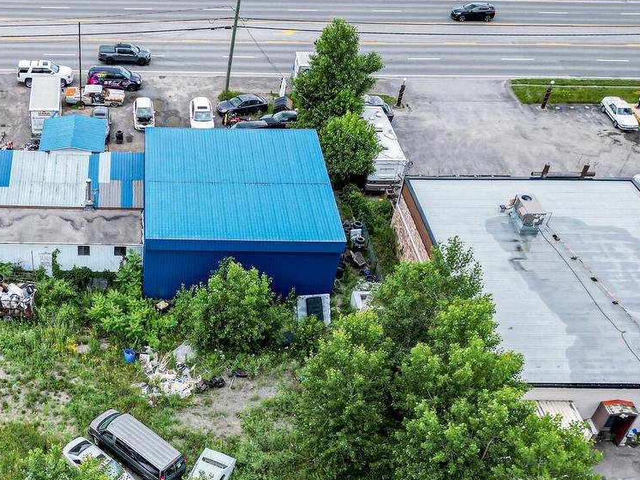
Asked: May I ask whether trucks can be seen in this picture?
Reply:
Yes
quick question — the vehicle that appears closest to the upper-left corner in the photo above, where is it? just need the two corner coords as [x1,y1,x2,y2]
[14,57,76,87]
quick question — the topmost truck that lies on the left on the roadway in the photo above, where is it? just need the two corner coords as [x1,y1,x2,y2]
[97,40,153,65]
